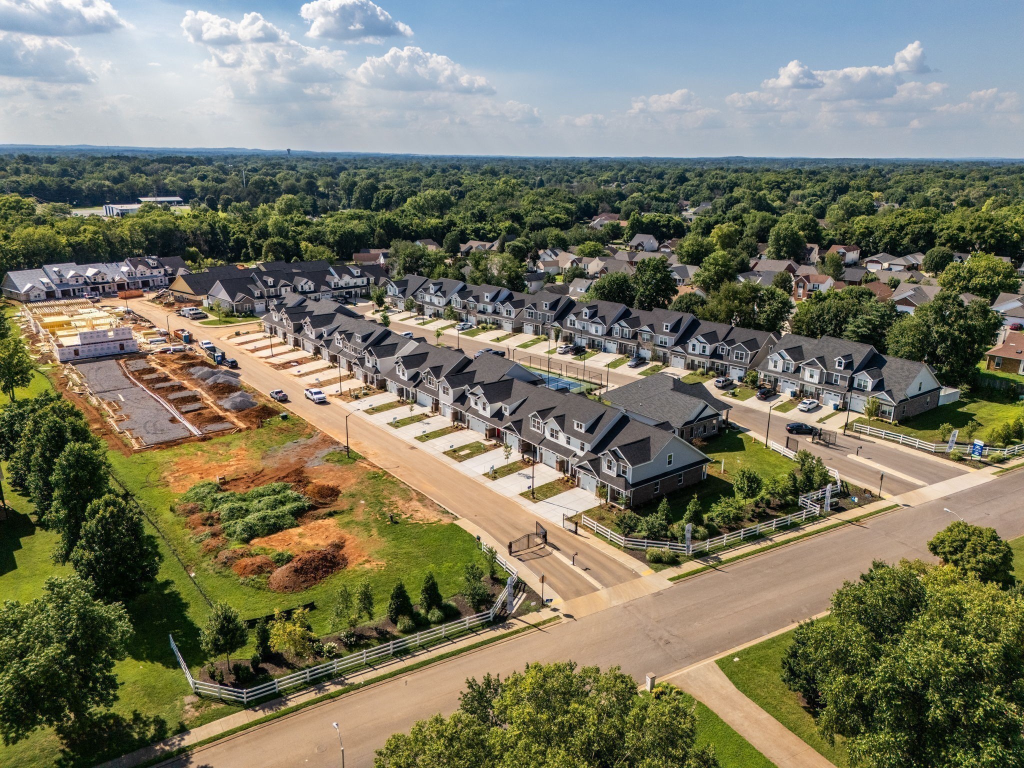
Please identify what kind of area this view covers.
residential area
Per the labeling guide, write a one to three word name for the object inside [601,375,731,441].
building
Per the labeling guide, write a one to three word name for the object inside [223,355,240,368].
vehicle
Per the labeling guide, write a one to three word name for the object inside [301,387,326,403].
vehicle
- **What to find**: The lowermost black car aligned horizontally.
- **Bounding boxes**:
[782,422,817,436]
